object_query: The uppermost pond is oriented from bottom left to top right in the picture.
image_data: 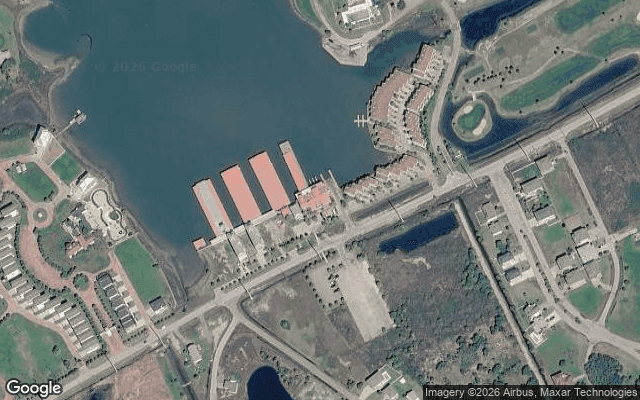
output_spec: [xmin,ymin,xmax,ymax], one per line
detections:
[461,0,541,49]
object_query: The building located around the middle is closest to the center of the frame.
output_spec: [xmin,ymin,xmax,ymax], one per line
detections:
[298,184,331,213]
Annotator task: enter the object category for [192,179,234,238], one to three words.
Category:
shed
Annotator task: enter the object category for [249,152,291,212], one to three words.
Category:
shed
